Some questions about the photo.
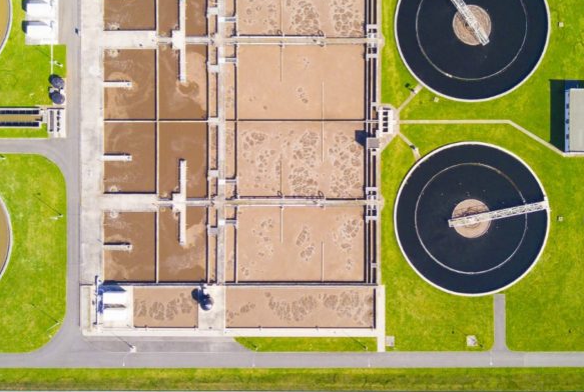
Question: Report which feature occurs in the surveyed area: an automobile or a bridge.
bridge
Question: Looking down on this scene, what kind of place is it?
industrial area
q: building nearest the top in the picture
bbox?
[27,4,57,17]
